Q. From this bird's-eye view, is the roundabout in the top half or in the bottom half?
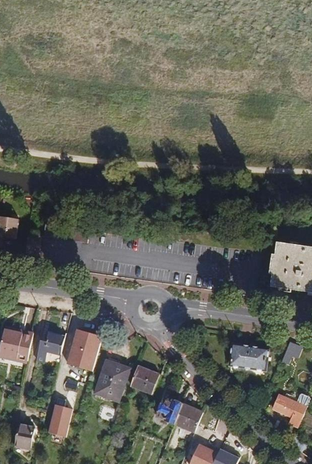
bottom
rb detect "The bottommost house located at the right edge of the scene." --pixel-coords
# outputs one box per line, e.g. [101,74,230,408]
[272,394,308,430]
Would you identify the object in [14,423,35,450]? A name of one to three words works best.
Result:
house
